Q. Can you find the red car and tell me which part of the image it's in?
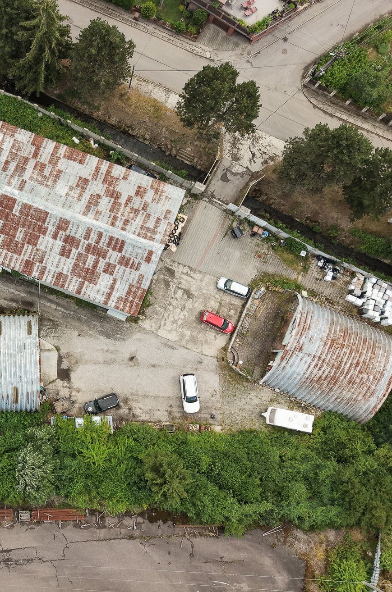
center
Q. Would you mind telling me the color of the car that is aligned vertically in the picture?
white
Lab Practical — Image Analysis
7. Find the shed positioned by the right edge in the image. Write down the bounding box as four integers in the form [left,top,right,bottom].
[263,295,392,421]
